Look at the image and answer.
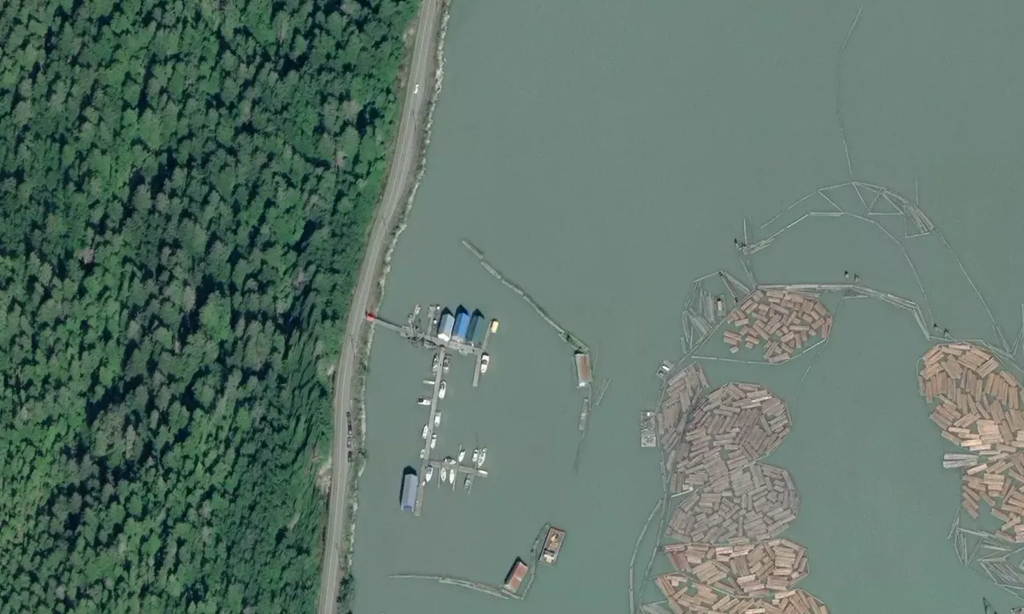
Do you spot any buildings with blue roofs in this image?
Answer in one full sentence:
Yes, there's a building with a blue roof here.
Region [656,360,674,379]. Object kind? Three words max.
ship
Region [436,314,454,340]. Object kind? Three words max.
building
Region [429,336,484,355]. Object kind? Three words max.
pier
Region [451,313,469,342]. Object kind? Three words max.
building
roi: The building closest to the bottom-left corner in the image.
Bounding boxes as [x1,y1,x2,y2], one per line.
[402,474,419,514]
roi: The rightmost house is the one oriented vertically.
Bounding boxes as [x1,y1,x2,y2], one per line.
[575,354,593,386]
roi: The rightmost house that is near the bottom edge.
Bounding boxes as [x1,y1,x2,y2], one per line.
[504,562,529,595]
